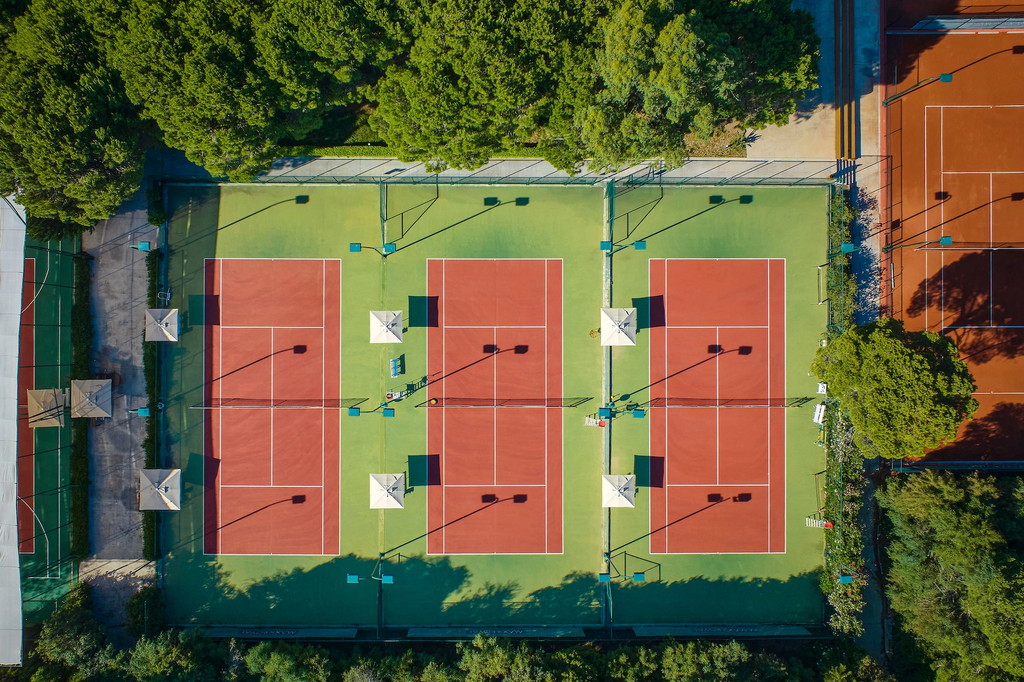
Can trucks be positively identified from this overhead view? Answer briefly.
No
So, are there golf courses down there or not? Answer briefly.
No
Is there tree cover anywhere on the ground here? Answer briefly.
Yes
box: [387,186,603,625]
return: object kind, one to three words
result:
tennis court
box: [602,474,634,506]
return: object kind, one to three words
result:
umbrella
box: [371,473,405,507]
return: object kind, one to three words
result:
umbrella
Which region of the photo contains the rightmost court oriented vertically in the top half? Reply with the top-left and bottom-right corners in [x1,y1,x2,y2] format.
[888,31,1024,461]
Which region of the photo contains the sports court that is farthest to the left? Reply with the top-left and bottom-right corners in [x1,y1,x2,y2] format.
[19,193,79,618]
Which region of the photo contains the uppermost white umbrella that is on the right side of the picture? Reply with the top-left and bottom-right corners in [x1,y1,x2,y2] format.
[600,310,635,344]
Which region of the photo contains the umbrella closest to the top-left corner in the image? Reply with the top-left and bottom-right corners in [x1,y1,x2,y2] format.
[147,309,181,342]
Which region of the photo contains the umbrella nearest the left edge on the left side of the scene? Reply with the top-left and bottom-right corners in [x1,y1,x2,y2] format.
[31,389,69,427]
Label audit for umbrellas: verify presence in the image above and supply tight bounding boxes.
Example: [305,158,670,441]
[147,309,181,342]
[371,311,404,343]
[602,474,634,506]
[600,310,635,344]
[31,389,69,427]
[75,379,114,417]
[371,473,405,507]
[142,469,183,509]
